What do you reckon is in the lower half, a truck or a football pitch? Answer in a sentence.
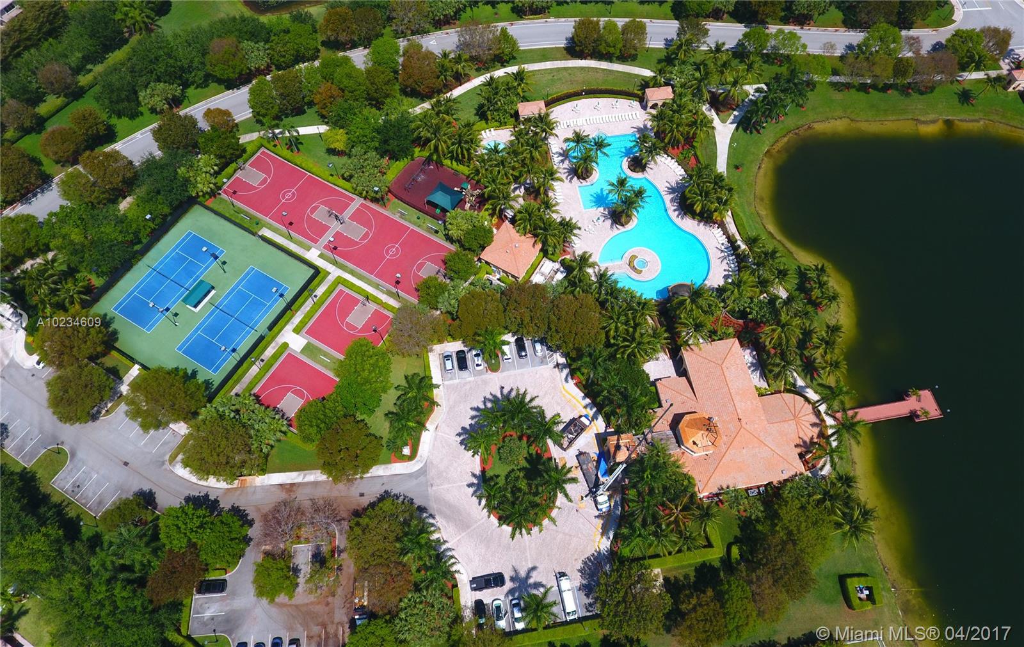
Looking in the lower half, you will find a truck.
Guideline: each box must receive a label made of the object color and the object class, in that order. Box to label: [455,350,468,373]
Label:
black vehicle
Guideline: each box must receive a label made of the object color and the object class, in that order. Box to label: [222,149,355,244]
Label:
red basketball court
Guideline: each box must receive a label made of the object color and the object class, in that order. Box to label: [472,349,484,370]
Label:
white vehicle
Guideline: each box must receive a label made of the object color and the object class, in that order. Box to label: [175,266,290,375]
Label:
blue tennis court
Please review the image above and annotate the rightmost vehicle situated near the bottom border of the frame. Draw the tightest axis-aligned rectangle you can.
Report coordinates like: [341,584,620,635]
[554,572,579,619]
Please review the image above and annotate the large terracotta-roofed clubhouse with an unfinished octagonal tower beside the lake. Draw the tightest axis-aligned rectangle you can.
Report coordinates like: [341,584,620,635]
[601,336,820,498]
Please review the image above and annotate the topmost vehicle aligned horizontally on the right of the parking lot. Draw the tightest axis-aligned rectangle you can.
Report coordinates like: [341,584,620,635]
[473,573,504,589]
